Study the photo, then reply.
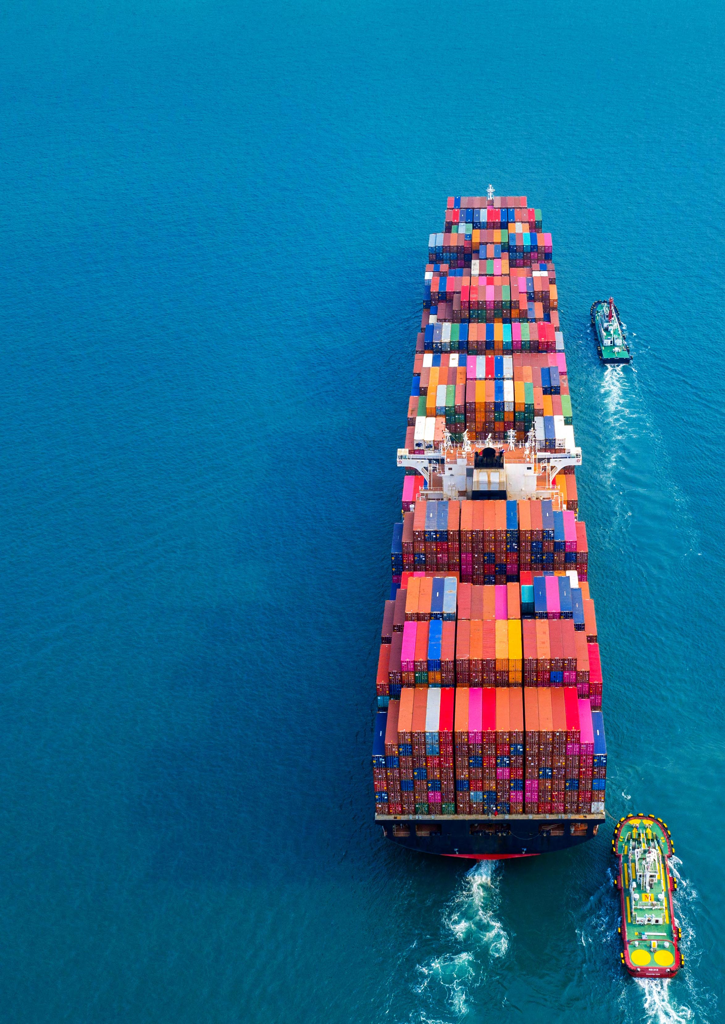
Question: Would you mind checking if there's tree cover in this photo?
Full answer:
No, the picture contains no tree cover.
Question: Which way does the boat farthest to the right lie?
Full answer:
The boat farthest to the right is laid out up and down.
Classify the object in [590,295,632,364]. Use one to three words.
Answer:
boat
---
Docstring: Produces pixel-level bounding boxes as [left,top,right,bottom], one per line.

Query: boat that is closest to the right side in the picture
[612,812,684,978]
